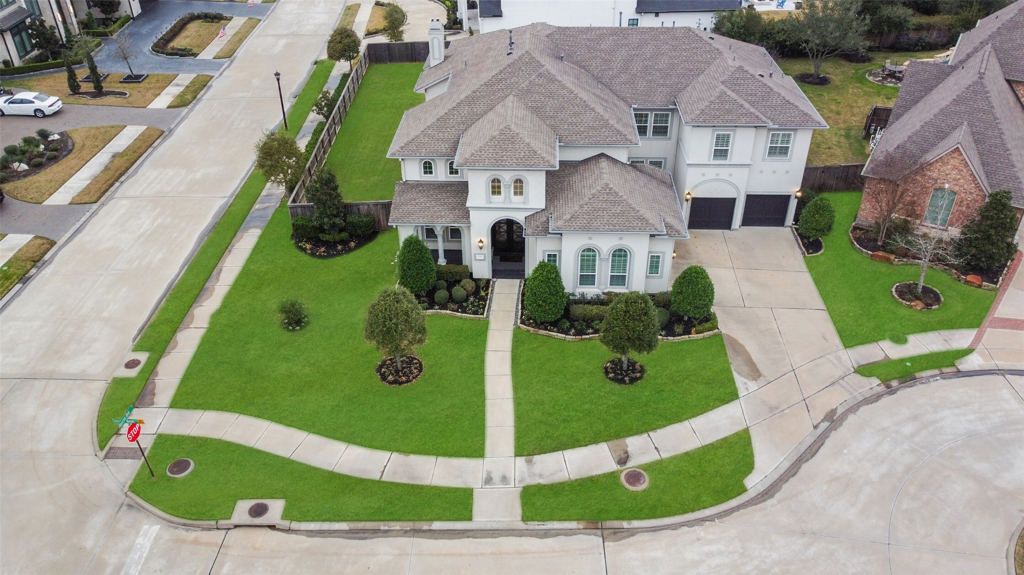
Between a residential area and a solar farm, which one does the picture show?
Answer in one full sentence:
It's a residential area.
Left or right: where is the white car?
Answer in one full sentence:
The white car sits on the left side.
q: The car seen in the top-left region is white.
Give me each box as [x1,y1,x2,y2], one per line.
[0,89,63,116]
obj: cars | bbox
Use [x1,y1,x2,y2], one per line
[0,183,5,197]
[0,89,63,116]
